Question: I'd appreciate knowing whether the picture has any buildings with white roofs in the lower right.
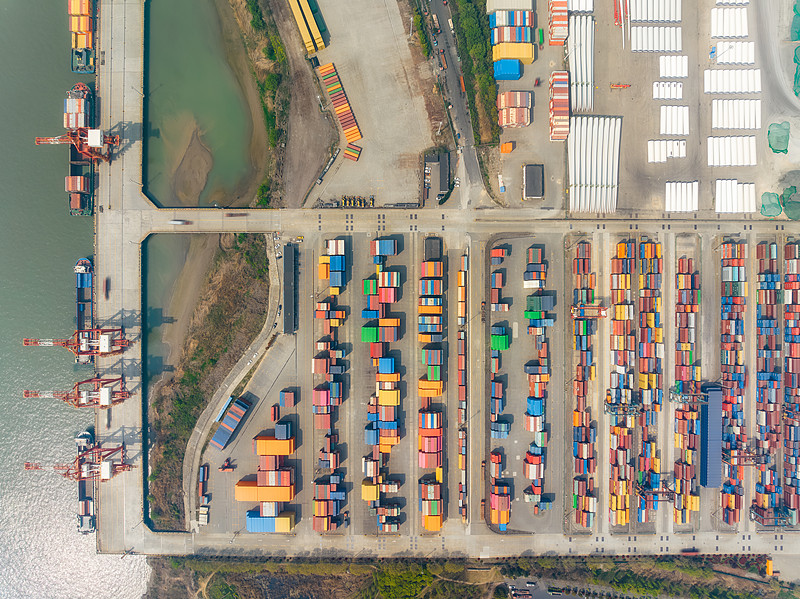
No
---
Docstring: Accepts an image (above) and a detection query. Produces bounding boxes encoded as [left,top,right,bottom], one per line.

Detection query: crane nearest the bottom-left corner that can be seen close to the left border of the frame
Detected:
[23,437,123,483]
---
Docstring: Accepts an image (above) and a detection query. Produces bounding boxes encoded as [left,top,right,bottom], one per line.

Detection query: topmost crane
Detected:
[38,127,116,167]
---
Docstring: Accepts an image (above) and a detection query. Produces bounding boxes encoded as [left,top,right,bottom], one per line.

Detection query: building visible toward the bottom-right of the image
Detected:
[701,388,722,487]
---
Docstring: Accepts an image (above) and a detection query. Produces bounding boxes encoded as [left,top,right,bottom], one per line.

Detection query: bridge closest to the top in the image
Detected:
[157,208,277,235]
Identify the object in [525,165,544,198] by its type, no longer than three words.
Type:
building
